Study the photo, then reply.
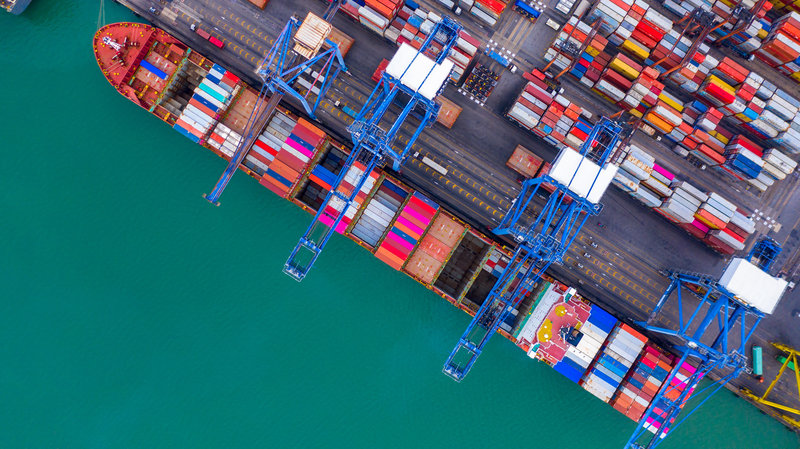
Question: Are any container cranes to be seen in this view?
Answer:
Yes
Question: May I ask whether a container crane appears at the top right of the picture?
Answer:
Yes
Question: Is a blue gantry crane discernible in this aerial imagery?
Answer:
Yes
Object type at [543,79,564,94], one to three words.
vehicle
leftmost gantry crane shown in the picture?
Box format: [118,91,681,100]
[200,0,357,204]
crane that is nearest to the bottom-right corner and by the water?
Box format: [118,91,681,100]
[736,337,800,425]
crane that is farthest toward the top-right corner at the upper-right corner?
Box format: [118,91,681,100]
[708,0,766,40]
